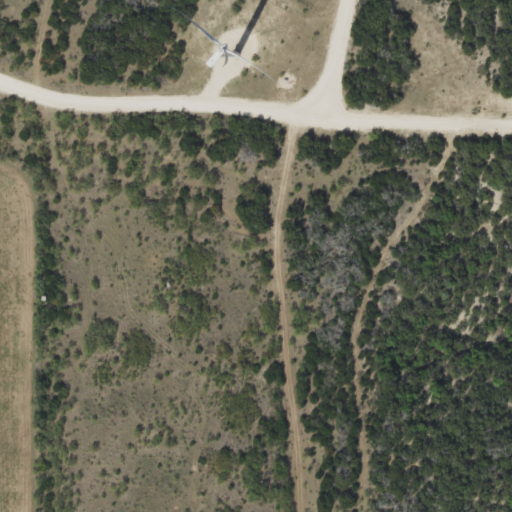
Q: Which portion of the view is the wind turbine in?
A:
top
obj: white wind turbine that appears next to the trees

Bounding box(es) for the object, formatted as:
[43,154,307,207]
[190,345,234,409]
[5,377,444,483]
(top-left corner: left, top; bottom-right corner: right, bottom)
[173,0,278,77]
